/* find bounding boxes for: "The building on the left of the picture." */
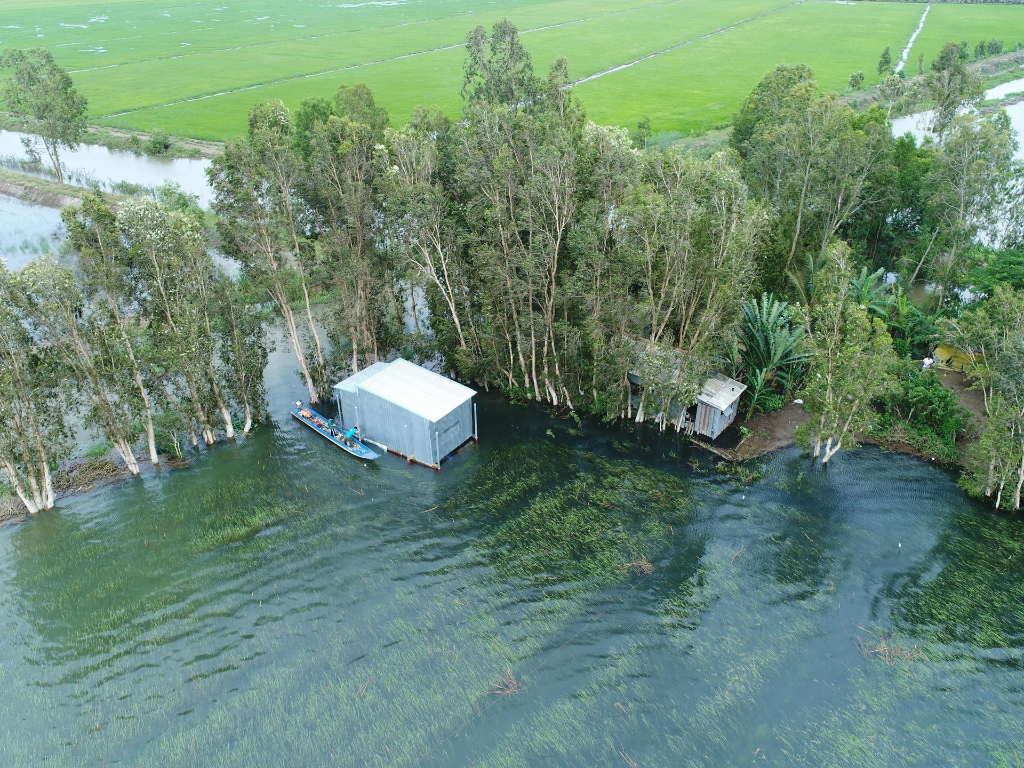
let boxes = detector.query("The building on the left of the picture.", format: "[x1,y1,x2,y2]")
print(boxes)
[332,360,472,469]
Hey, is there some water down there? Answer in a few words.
Yes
